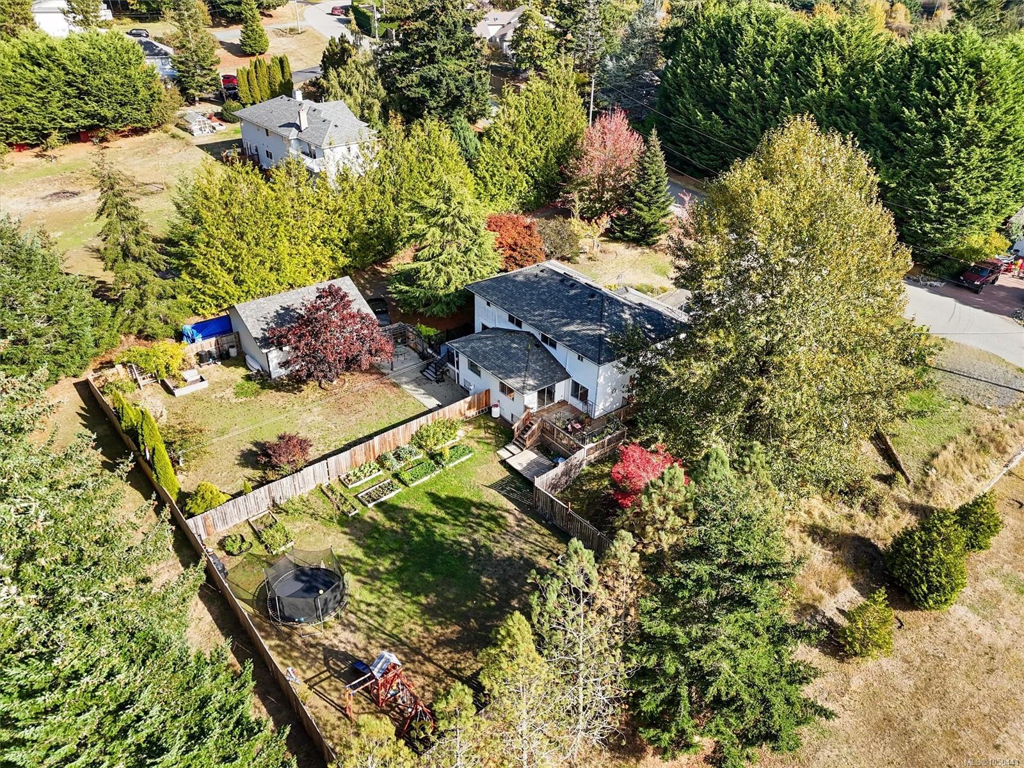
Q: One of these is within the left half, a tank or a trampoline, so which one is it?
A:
trampoline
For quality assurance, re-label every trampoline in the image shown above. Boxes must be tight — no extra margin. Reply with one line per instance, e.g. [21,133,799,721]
[259,530,352,633]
